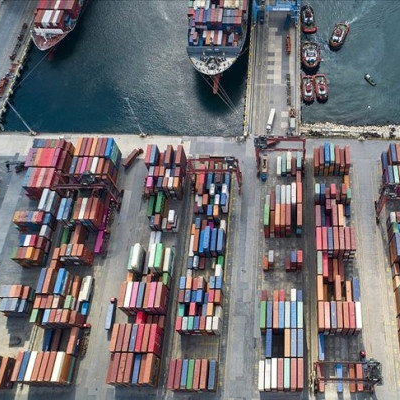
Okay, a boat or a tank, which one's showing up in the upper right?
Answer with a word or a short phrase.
boat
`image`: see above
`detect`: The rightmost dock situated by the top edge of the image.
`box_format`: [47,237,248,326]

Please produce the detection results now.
[242,0,304,136]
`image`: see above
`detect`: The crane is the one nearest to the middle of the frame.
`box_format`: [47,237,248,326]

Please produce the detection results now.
[185,155,242,193]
